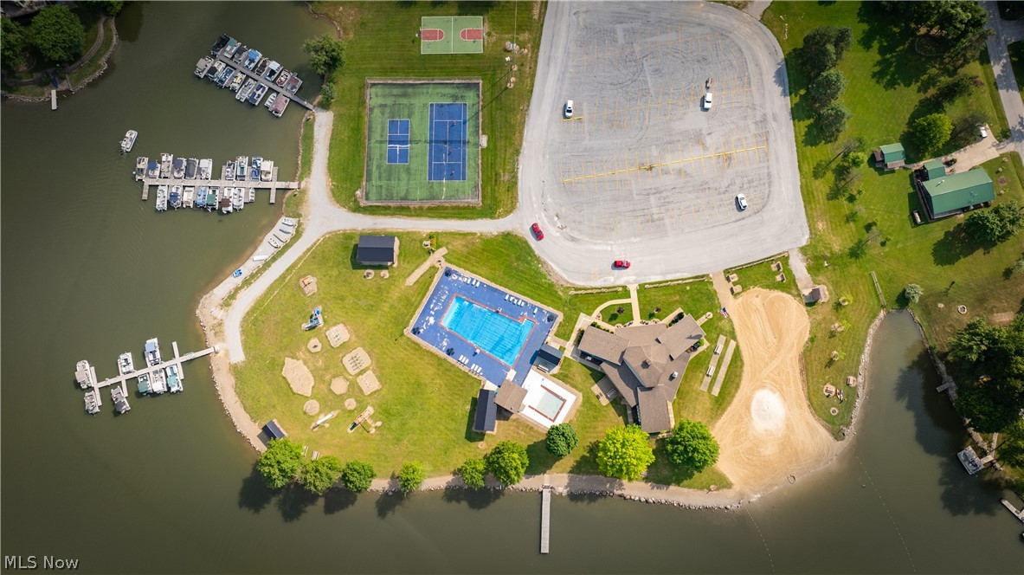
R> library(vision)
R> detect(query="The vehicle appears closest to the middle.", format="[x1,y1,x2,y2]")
[531,224,544,240]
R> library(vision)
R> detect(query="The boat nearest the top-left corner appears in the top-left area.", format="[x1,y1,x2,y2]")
[117,130,140,153]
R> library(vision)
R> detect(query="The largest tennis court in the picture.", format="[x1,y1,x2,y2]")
[361,75,488,205]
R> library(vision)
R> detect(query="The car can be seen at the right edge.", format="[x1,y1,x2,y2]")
[977,126,989,141]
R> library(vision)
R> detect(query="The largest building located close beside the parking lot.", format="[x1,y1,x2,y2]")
[578,314,705,431]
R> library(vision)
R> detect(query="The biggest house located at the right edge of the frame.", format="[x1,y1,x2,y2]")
[911,160,995,222]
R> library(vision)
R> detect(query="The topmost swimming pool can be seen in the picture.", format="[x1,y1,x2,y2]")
[407,262,563,391]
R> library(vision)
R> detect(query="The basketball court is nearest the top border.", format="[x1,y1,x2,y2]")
[418,16,486,54]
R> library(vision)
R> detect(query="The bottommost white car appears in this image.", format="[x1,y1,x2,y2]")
[736,193,748,210]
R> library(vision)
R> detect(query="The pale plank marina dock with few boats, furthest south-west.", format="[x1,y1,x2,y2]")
[89,342,214,405]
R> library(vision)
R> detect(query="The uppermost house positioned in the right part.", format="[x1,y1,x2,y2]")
[874,143,907,171]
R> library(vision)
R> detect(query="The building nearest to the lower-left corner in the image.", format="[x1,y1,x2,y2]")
[262,420,288,443]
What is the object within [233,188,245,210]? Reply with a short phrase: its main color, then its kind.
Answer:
white boat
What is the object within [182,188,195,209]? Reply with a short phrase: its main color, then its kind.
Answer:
white boat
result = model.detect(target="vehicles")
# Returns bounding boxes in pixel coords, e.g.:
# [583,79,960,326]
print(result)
[736,193,748,210]
[977,126,989,141]
[704,92,713,109]
[614,260,630,268]
[565,101,573,118]
[531,224,544,240]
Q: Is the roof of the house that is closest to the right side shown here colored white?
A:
No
